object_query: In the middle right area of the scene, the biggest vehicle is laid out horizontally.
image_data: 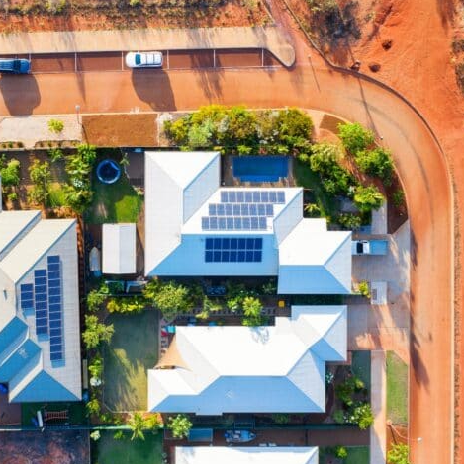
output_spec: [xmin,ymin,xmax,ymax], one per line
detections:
[352,239,391,258]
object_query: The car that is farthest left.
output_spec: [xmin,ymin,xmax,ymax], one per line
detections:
[0,57,31,75]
